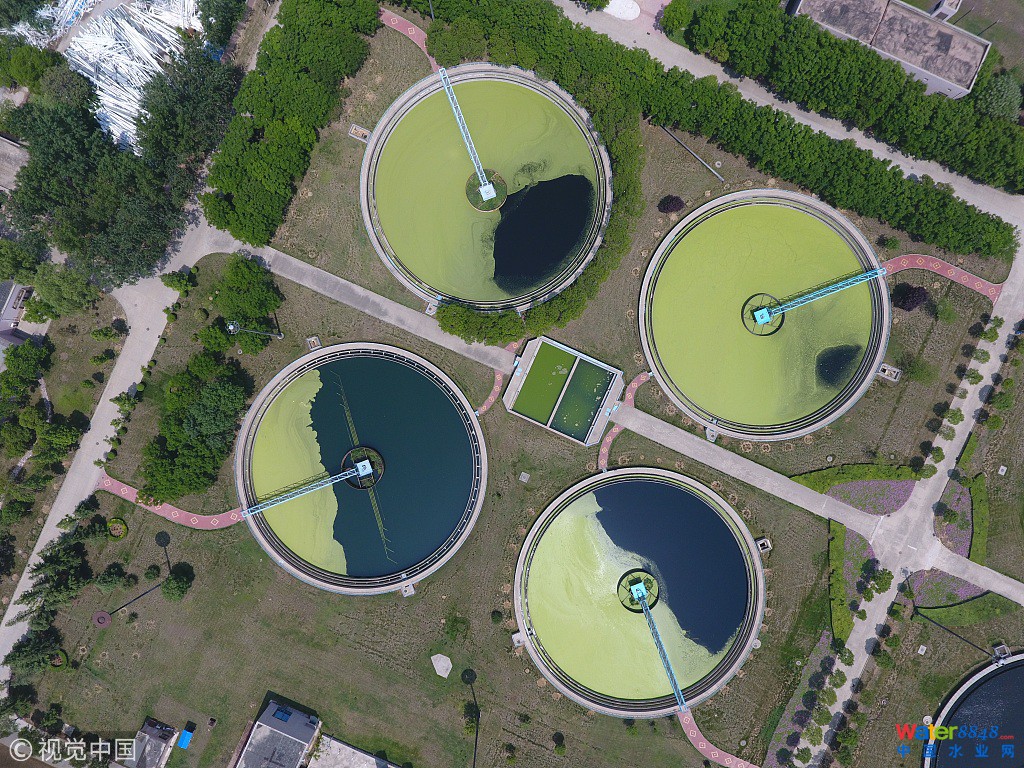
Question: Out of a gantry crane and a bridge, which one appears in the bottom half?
bridge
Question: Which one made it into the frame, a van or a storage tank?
storage tank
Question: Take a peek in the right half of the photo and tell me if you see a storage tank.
Yes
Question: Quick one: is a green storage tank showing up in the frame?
Yes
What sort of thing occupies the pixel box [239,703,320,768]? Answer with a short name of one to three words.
house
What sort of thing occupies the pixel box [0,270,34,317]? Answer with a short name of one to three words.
house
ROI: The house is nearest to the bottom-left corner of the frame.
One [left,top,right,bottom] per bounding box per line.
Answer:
[122,718,178,768]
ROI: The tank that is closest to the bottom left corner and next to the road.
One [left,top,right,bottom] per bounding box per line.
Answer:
[235,343,487,595]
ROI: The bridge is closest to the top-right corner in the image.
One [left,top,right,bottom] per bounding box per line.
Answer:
[771,267,887,315]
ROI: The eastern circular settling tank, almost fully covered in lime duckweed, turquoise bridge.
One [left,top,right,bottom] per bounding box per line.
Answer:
[636,188,893,441]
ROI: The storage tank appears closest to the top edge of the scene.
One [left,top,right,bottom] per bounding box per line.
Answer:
[362,60,612,313]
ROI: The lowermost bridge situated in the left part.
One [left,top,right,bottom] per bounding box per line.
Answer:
[240,467,358,518]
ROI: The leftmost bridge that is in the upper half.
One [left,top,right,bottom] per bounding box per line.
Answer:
[437,65,487,185]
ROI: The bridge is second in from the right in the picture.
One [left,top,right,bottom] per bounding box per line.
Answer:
[638,598,689,714]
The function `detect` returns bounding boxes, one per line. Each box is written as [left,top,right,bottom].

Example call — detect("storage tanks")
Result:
[636,188,893,441]
[916,650,1024,768]
[235,343,487,595]
[362,60,612,313]
[513,466,766,719]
